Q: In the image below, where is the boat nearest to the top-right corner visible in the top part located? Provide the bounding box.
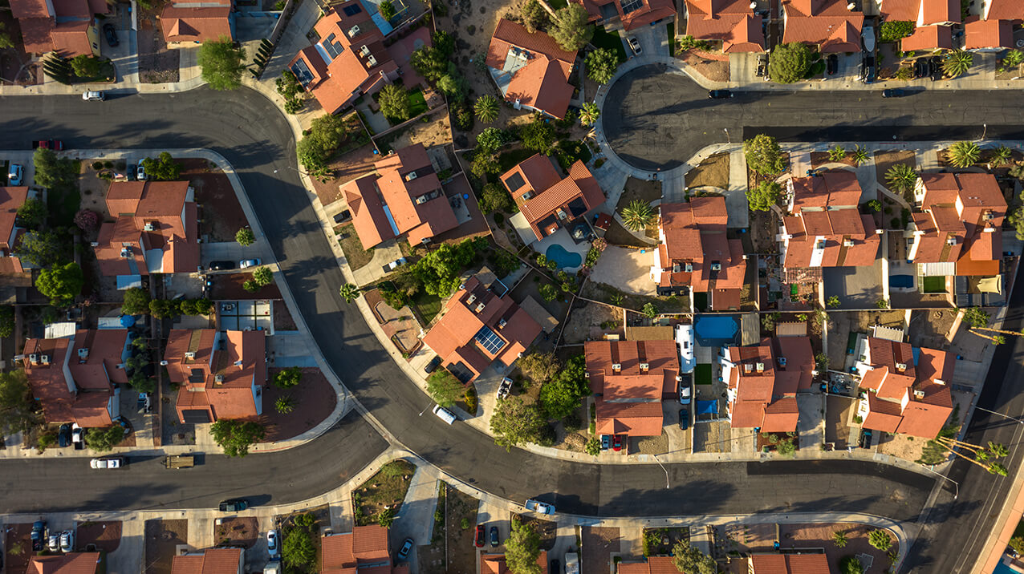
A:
[862,23,876,54]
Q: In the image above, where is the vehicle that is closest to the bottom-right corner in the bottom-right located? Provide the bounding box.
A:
[860,425,873,453]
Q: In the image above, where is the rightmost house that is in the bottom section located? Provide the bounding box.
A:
[850,325,957,440]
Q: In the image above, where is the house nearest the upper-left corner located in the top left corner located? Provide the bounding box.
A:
[8,0,116,61]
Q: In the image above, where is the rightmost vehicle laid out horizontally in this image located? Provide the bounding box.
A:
[879,88,905,100]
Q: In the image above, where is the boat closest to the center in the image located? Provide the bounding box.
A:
[496,371,512,403]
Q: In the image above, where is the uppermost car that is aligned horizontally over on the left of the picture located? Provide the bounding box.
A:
[82,90,108,102]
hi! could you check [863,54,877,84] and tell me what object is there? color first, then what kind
black vehicle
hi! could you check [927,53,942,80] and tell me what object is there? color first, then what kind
black car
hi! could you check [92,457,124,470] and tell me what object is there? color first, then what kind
white vehicle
